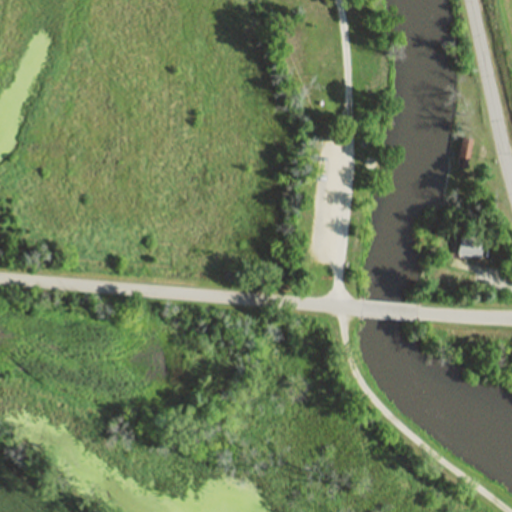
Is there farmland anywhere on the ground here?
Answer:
No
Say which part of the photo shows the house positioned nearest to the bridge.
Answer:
right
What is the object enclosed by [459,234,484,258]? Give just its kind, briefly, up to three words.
house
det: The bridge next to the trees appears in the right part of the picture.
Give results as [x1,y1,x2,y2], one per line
[361,300,420,322]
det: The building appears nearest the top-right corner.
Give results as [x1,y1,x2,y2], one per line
[460,136,475,168]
